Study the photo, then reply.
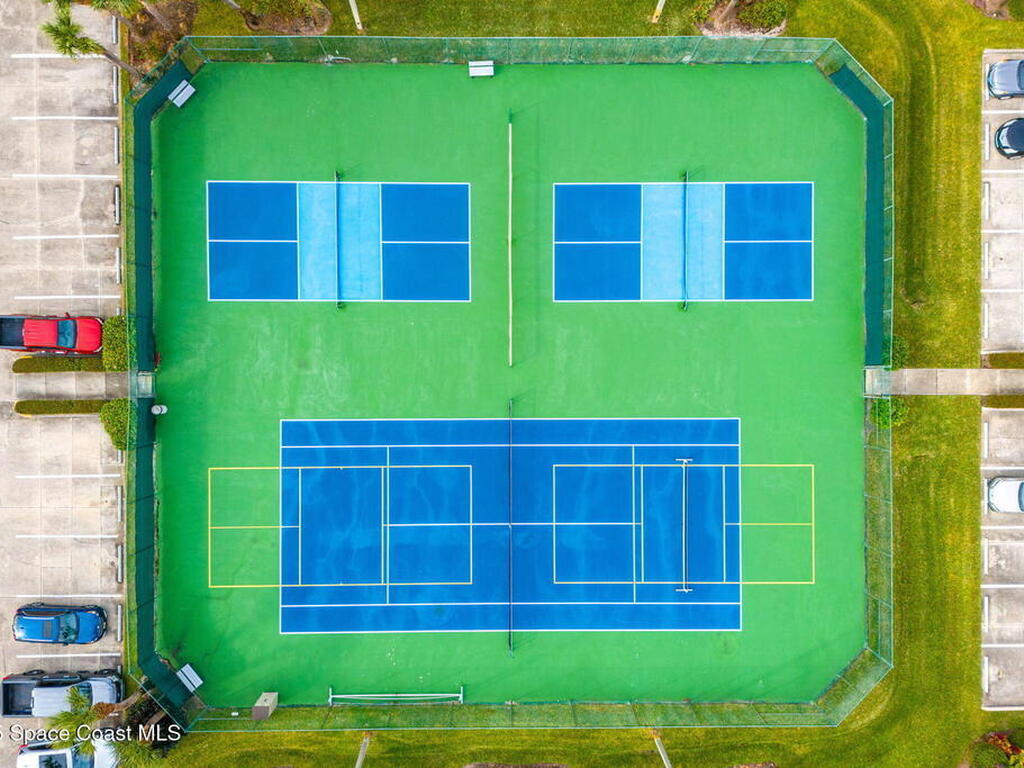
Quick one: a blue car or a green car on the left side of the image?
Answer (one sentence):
It is a blue car that can be seen on the left side of the image.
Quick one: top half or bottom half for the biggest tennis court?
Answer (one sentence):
Seen from above, the biggest tennis court lies in the bottom half of the view.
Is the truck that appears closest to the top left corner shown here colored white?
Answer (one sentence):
No, the color of the truck that appears closest to the top left corner is red.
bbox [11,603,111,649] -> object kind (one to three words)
car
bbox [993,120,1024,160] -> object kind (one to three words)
car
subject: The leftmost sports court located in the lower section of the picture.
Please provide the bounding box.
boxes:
[208,465,472,588]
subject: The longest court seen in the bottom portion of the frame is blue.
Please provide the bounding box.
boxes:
[280,418,742,634]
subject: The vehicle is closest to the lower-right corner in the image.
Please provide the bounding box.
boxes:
[986,477,1024,514]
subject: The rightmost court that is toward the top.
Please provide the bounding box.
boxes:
[553,182,814,302]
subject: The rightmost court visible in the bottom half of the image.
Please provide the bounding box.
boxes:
[553,464,815,584]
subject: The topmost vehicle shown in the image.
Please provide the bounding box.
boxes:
[984,58,1024,103]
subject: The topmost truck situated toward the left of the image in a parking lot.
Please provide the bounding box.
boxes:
[0,310,106,353]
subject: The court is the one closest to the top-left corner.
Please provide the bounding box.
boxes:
[206,181,471,302]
